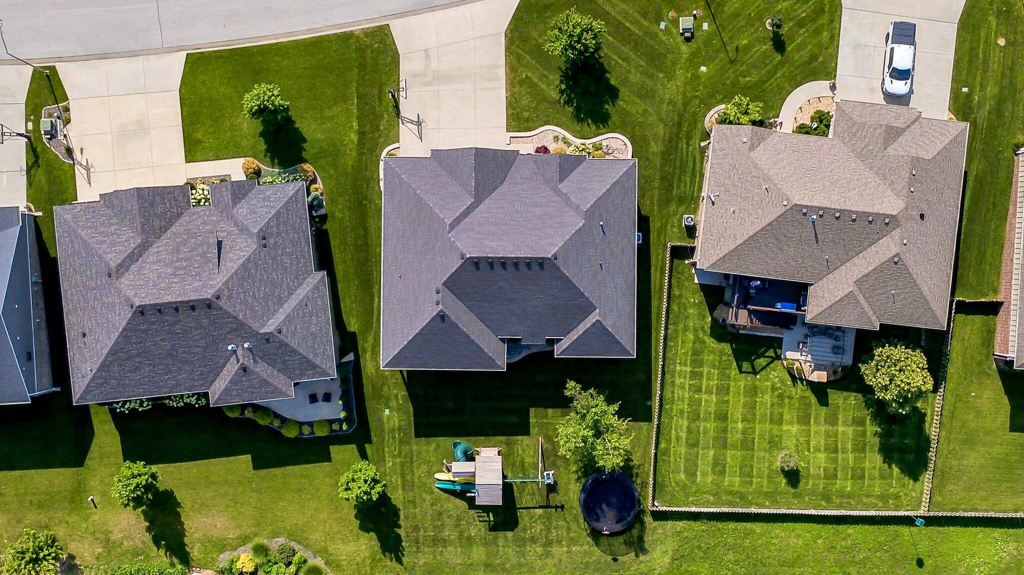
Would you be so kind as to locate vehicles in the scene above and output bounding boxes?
[882,20,919,97]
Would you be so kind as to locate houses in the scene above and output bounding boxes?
[0,208,65,405]
[380,146,638,371]
[681,98,972,332]
[990,151,1024,363]
[52,178,354,408]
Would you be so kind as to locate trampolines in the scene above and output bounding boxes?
[579,470,641,536]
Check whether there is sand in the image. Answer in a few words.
No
